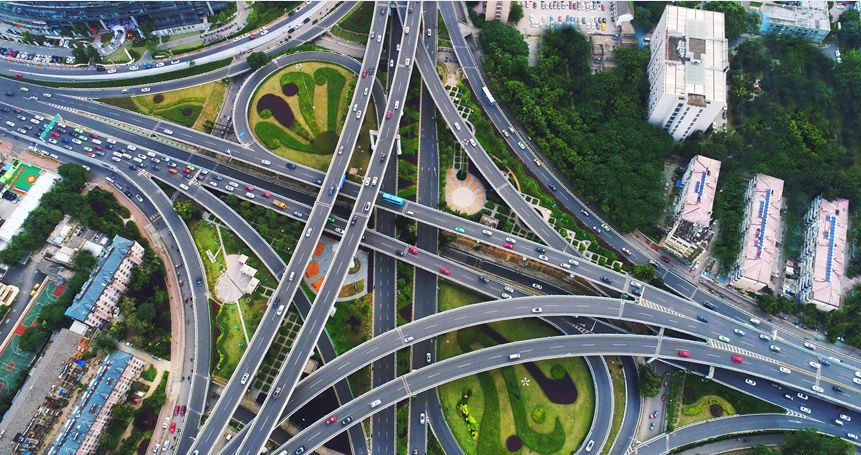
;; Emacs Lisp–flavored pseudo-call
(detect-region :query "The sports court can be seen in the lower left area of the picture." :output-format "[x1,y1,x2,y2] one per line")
[0,281,65,402]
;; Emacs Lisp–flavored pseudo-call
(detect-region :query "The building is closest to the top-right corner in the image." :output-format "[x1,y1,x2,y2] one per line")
[755,0,832,41]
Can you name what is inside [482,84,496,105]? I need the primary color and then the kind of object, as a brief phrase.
white vehicle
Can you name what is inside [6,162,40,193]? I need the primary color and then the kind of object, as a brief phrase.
green sports court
